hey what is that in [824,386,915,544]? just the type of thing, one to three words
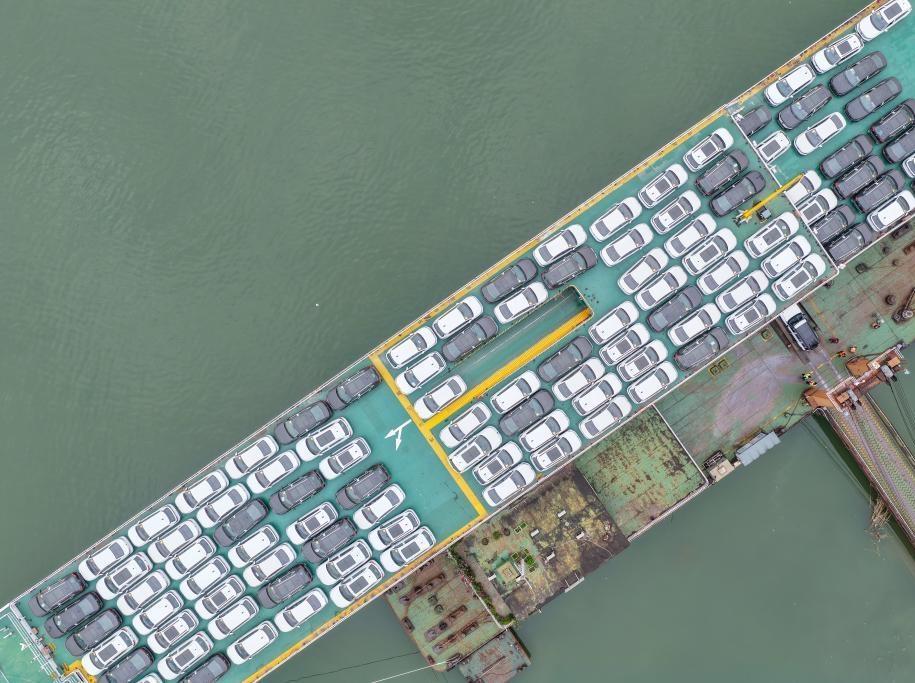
bridge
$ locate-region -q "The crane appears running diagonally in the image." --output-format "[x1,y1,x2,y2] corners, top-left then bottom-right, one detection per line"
[729,176,804,229]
